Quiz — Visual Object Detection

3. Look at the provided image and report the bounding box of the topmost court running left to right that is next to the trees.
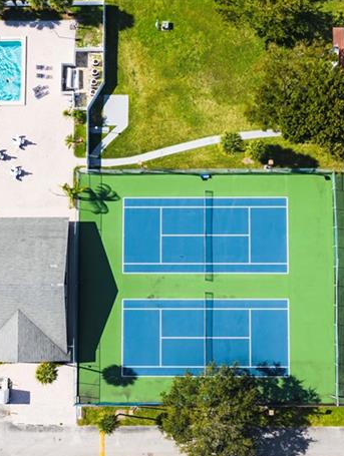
[78,171,332,286]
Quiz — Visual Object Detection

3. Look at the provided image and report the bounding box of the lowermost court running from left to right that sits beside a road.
[77,286,333,404]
